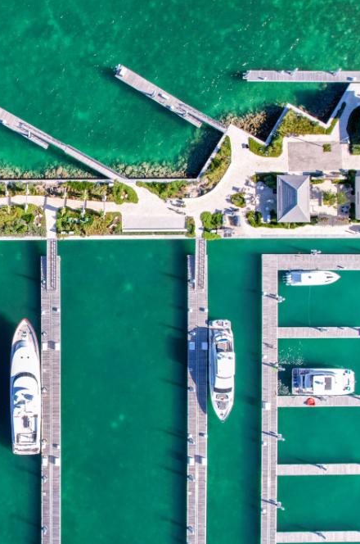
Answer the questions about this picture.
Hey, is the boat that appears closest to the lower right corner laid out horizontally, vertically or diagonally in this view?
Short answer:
horizontally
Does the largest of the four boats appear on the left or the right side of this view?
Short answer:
left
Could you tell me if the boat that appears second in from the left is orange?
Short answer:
No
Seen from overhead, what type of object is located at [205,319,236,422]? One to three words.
boat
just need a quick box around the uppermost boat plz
[281,270,342,286]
